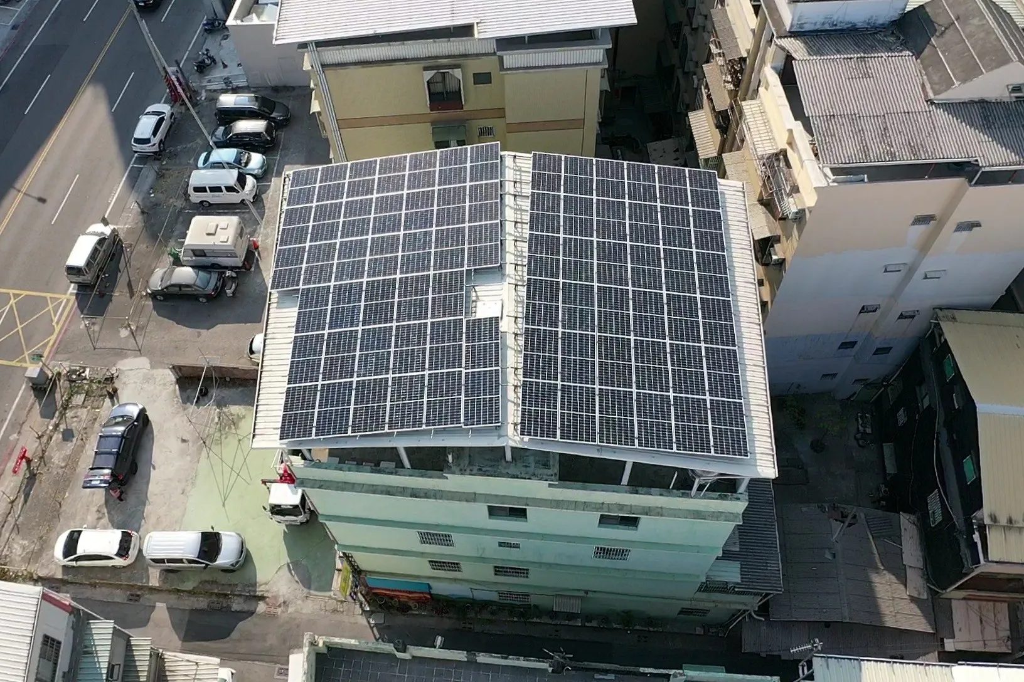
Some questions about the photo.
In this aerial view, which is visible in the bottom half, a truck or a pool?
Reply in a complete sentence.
Visible in the bottom half is a truck.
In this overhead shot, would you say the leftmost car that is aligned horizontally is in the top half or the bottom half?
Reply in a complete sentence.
The bottom half of the photo is where the leftmost car that is aligned horizontally is.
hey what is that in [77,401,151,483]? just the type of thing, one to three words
car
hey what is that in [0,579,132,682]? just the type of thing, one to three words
building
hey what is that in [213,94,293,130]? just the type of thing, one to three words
car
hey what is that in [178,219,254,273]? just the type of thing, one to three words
camper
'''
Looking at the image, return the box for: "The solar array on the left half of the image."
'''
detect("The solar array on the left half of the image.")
[268,141,505,452]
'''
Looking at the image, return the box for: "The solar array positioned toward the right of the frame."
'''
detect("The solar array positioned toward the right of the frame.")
[515,151,752,457]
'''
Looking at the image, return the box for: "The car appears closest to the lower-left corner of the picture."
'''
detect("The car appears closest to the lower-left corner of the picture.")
[51,528,147,572]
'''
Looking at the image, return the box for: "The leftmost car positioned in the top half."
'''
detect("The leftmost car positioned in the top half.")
[64,226,127,287]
